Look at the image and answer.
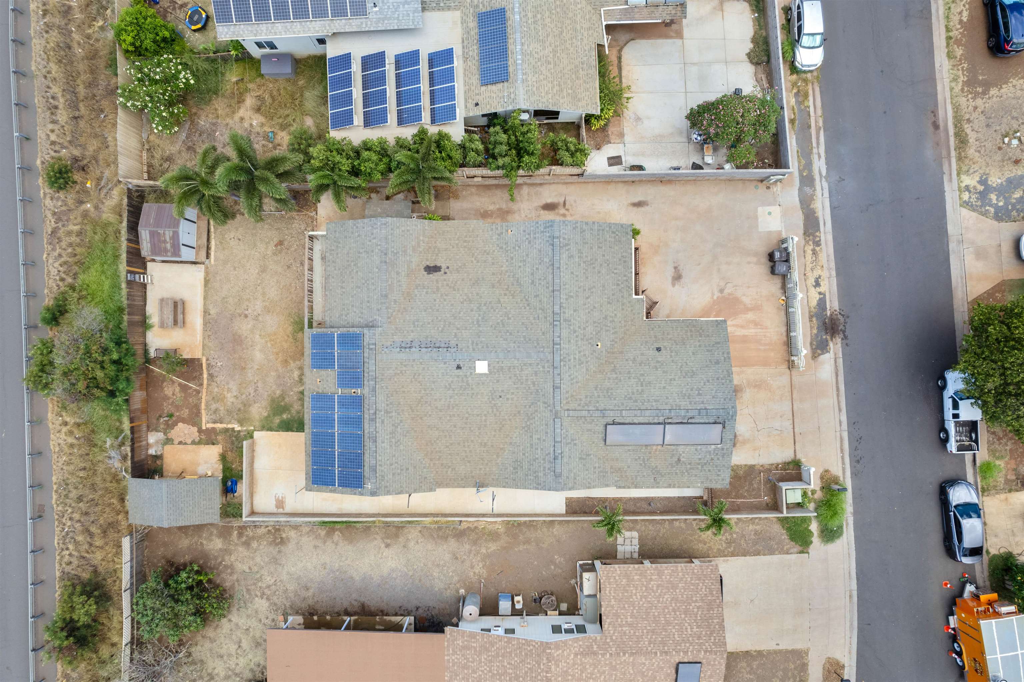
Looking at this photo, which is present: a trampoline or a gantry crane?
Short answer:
trampoline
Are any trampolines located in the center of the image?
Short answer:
No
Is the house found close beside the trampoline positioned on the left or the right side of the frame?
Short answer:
left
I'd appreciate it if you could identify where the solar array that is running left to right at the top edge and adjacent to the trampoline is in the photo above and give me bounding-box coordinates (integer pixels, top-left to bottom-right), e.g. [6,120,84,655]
[210,0,368,25]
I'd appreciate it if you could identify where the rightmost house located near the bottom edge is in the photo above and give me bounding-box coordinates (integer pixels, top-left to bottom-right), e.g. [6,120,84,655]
[444,559,727,682]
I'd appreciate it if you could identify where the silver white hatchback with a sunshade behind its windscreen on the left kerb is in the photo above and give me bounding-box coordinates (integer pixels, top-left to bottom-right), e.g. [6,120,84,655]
[791,0,835,71]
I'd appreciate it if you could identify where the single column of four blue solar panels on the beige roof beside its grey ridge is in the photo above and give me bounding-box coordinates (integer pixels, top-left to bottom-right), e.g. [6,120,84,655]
[478,6,508,84]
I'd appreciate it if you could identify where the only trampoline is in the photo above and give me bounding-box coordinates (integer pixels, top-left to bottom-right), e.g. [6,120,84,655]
[185,6,212,32]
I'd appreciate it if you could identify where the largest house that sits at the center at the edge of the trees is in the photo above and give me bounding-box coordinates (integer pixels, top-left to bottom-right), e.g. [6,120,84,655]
[304,217,736,497]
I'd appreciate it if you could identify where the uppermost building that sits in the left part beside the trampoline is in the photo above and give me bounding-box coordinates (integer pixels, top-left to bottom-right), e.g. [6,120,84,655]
[216,0,423,58]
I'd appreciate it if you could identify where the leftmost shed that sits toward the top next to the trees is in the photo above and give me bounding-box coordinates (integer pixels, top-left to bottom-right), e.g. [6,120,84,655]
[138,203,207,261]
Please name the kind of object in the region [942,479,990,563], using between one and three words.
car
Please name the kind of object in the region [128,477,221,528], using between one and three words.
shed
